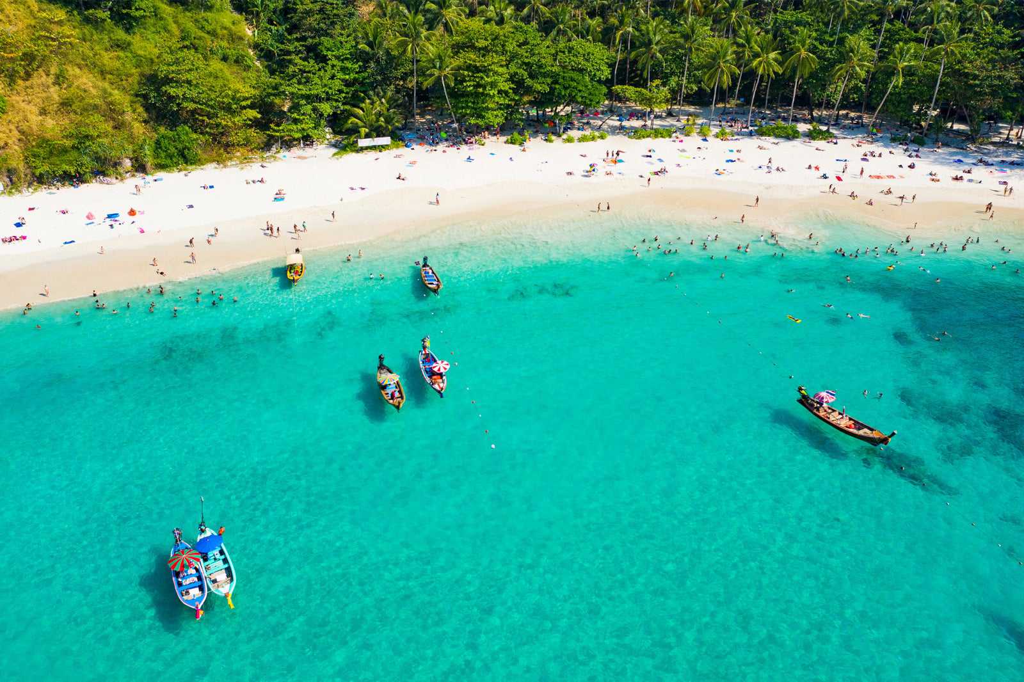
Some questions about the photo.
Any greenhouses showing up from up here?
No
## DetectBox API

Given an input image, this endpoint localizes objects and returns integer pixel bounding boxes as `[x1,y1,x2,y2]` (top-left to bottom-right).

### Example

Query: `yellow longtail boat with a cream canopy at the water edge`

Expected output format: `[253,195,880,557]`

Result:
[284,242,306,282]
